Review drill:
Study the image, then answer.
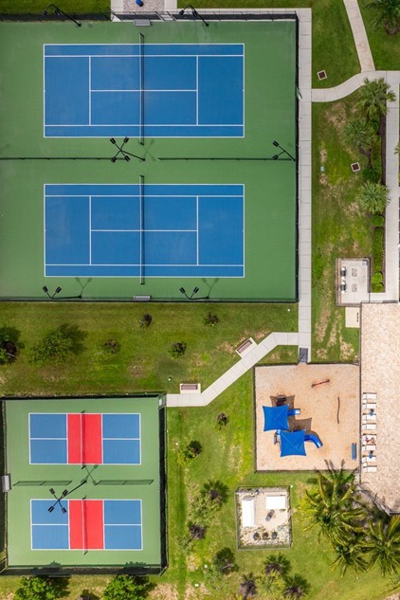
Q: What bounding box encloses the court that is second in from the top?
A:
[0,159,298,301]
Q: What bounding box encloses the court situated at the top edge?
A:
[0,20,298,159]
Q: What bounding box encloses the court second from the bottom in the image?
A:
[6,397,161,481]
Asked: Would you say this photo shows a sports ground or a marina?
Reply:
sports ground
